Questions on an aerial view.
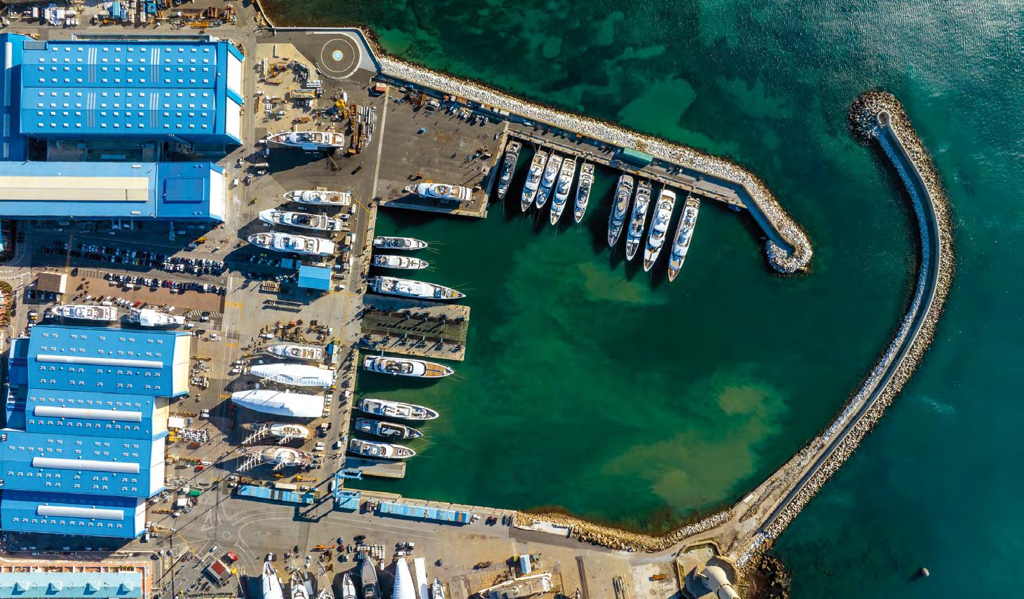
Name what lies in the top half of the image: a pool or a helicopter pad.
helicopter pad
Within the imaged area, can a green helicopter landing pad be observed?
No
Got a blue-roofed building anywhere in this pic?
Yes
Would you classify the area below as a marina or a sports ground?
marina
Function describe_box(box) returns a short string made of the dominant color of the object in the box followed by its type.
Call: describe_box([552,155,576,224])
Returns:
white boat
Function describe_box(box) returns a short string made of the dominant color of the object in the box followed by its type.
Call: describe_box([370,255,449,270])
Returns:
white boat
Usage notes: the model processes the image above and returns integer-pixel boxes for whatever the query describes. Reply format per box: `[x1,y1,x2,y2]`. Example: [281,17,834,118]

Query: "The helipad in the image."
[314,31,363,80]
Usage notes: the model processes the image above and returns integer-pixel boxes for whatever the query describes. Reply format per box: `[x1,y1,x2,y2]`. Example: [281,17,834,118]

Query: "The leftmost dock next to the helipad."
[373,76,510,218]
